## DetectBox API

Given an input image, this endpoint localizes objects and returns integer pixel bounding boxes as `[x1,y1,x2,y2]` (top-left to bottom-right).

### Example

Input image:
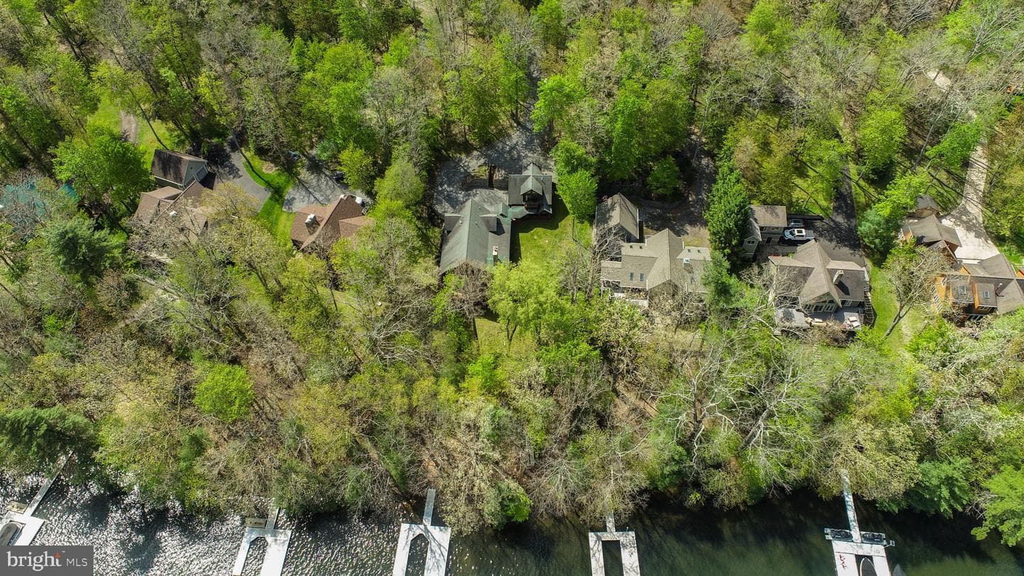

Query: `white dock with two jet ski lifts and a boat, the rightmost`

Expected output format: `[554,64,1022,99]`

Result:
[831,482,891,576]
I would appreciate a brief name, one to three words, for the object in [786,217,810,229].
vehicle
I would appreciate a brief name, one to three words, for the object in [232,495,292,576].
pier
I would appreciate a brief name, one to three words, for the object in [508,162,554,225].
building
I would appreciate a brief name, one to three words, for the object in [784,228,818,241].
vehicle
